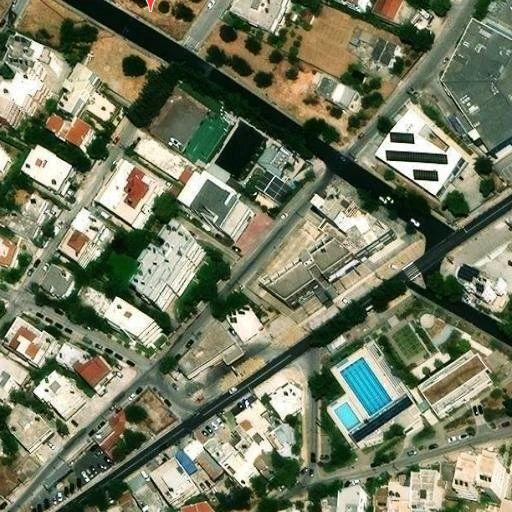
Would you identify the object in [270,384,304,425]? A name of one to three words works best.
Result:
house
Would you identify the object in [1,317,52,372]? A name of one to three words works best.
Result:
house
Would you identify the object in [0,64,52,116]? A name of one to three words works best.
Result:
building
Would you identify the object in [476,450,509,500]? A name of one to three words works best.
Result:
building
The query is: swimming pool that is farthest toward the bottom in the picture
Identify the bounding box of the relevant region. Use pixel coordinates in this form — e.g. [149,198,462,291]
[327,394,365,440]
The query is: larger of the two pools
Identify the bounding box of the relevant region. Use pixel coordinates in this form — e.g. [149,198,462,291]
[330,347,404,417]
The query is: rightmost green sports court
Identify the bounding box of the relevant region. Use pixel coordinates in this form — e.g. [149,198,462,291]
[184,112,230,164]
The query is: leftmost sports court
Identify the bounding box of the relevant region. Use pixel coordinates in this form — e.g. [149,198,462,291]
[152,94,204,151]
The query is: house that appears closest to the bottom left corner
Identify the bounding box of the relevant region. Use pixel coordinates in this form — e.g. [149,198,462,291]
[7,404,58,456]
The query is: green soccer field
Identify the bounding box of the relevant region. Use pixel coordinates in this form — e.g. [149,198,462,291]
[386,318,434,372]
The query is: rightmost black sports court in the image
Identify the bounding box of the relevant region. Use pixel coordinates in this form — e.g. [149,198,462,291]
[210,118,268,182]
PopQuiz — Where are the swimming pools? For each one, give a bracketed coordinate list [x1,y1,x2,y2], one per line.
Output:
[330,347,404,417]
[327,394,365,440]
